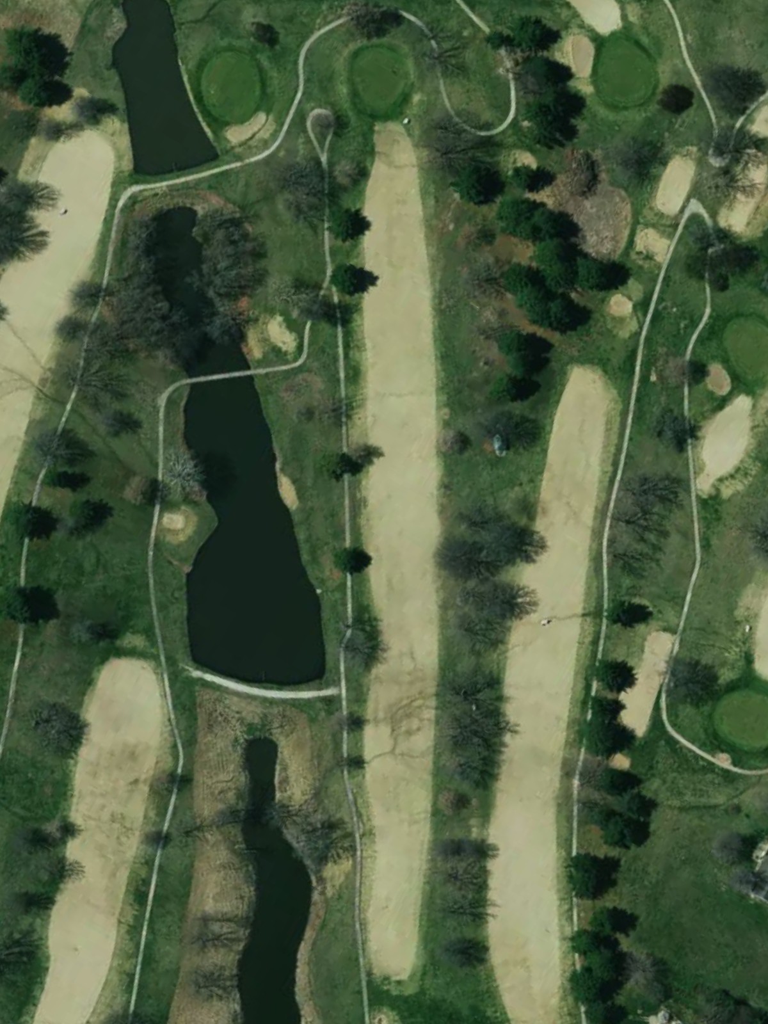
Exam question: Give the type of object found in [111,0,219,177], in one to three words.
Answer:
pond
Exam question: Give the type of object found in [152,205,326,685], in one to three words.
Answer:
pond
